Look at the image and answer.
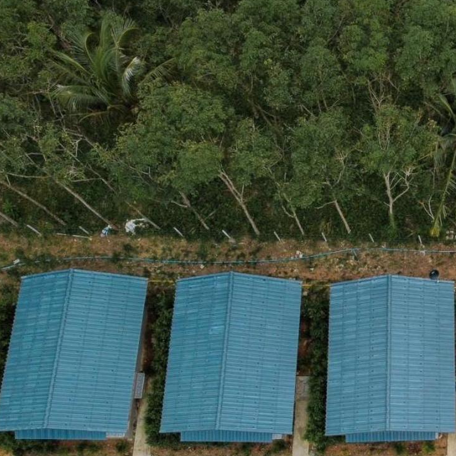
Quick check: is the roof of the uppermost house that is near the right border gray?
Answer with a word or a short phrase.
No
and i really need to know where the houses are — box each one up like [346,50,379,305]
[323,275,456,443]
[157,272,306,443]
[0,269,155,441]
